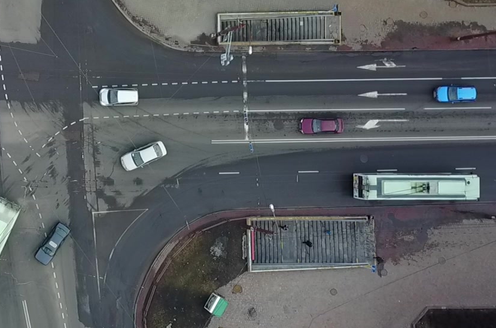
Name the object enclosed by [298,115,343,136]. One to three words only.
car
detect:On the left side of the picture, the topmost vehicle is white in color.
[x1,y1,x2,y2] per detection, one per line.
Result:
[99,85,138,107]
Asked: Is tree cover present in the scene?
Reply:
No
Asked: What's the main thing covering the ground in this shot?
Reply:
paved ground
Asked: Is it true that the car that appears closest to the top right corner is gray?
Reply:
No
